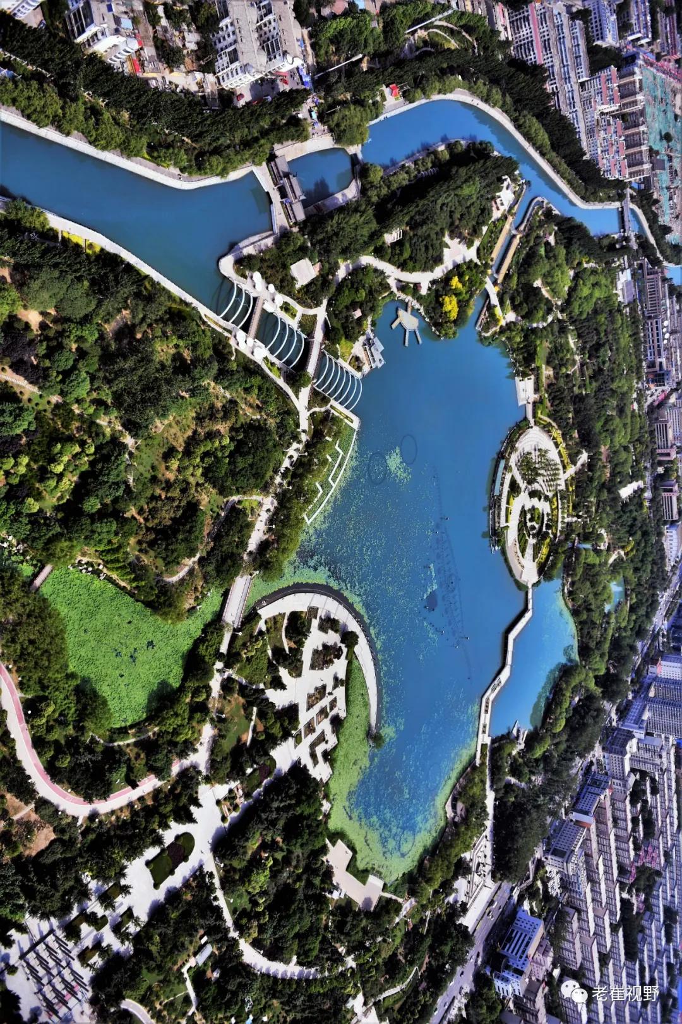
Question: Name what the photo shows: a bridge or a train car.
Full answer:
There is a bridge in the scene.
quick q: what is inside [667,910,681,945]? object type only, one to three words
building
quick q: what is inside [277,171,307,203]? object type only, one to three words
house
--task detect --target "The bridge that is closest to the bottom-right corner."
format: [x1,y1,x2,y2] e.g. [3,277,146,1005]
[477,585,535,763]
